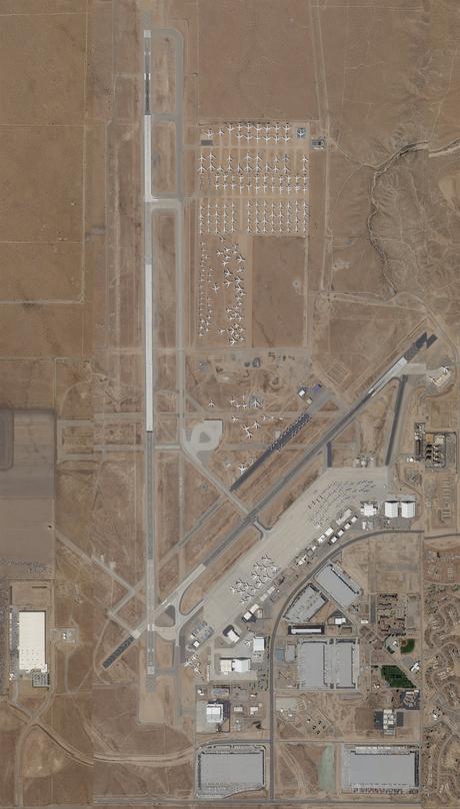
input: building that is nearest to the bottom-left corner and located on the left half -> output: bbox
[20,612,47,672]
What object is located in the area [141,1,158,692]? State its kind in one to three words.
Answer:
runway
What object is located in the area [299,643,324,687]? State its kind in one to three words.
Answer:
building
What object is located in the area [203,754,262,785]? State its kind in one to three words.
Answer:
building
